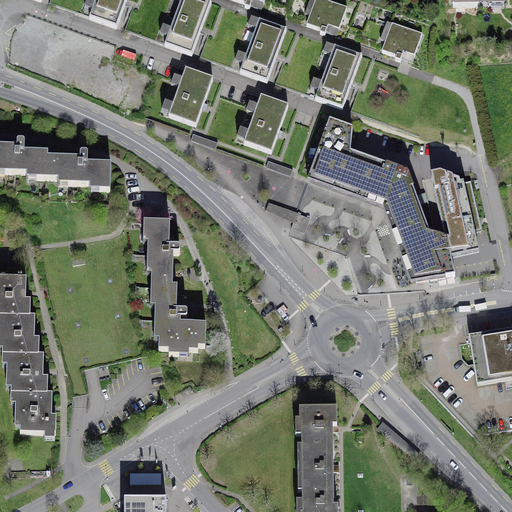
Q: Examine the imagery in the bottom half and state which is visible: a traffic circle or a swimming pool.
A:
traffic circle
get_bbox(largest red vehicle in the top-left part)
[116,48,138,61]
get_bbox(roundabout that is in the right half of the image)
[292,302,382,378]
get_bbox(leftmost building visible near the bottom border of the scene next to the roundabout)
[295,404,339,512]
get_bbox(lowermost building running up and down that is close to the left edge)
[0,274,58,444]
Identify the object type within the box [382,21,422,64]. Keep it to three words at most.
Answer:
house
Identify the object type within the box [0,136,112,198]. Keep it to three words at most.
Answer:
building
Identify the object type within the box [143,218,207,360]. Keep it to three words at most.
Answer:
building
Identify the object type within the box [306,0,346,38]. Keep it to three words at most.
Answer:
house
